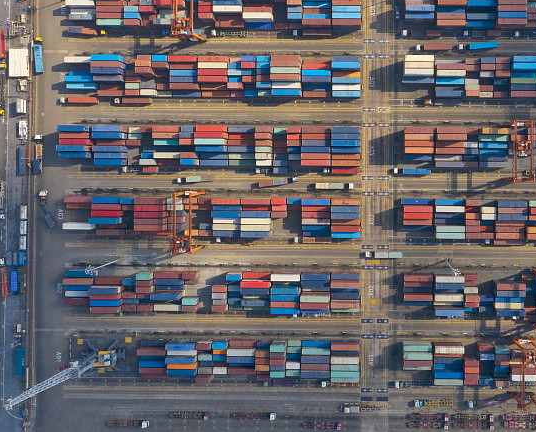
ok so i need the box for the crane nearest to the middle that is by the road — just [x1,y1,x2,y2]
[171,190,207,257]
